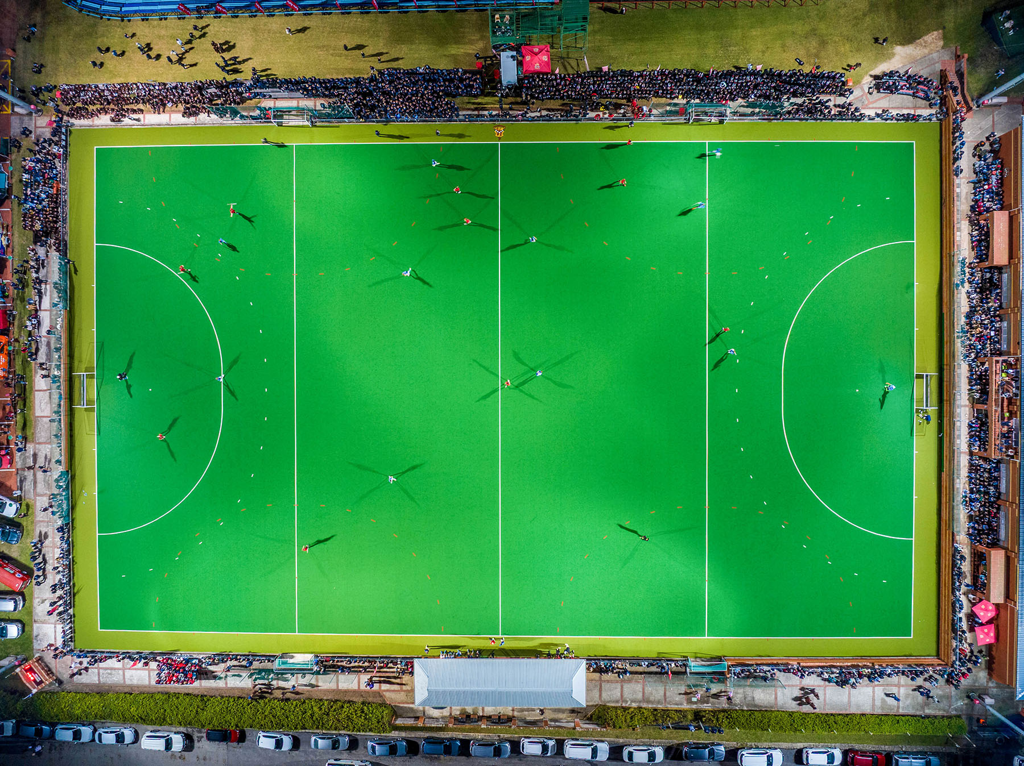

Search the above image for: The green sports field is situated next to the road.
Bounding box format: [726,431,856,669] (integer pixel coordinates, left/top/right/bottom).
[68,121,942,658]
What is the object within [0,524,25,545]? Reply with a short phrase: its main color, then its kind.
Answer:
blue car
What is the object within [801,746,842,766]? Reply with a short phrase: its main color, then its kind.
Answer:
white car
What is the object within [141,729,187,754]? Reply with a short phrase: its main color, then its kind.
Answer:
white car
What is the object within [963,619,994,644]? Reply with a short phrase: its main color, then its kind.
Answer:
pink gazebo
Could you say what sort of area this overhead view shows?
sports ground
